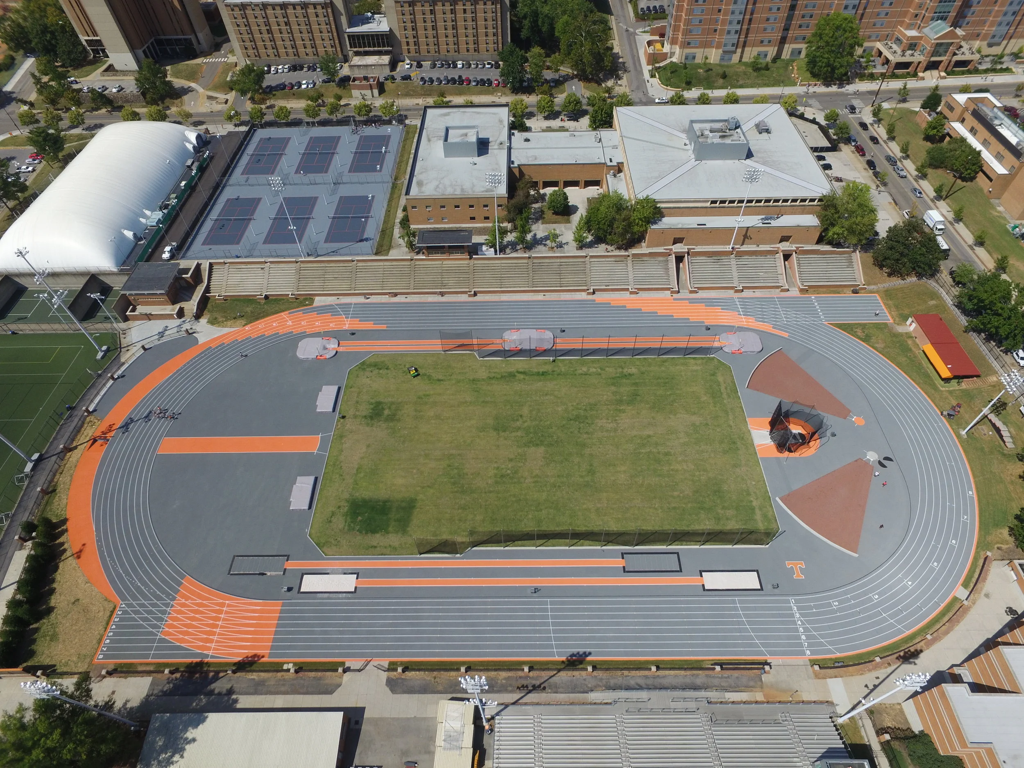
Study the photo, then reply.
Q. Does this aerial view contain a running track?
Yes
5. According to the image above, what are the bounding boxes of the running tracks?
[67,293,981,664]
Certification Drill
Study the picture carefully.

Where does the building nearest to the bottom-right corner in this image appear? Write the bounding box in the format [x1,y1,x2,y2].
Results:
[903,619,1024,768]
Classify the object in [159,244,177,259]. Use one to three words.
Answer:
vehicle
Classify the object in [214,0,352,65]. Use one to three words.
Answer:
building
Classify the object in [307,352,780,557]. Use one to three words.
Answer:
sports field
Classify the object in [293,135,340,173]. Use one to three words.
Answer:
tennis court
